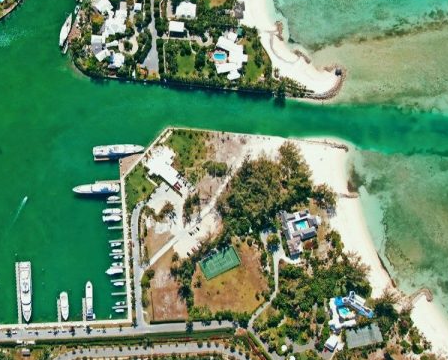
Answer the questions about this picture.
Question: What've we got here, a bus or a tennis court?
tennis court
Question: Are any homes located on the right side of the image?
Yes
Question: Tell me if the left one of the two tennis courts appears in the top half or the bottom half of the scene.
bottom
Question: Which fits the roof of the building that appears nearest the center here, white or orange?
white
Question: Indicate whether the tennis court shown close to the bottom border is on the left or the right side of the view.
right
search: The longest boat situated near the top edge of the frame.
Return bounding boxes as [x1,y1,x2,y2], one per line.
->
[59,14,74,48]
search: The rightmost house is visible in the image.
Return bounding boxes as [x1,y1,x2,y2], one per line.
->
[350,292,377,319]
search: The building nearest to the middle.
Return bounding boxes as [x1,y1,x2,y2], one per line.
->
[149,143,181,190]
